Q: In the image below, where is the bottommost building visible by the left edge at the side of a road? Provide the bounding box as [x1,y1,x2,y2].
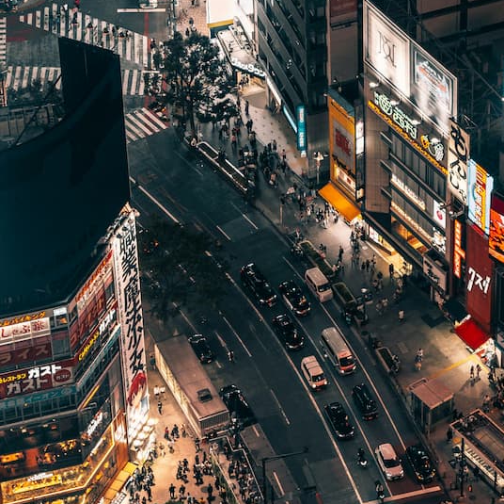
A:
[0,199,170,504]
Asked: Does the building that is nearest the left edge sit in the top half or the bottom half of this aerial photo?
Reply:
top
